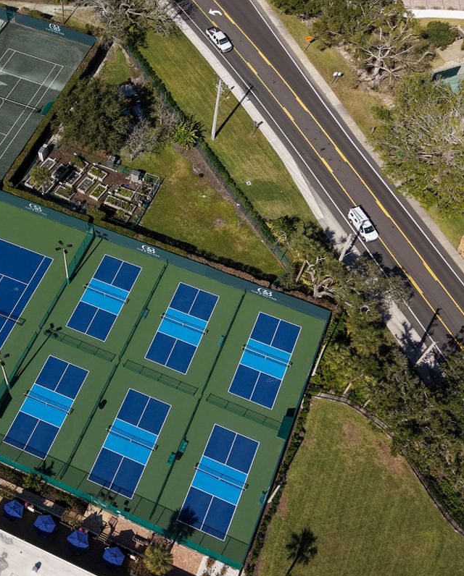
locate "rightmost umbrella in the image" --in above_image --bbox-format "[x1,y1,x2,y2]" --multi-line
[102,545,127,570]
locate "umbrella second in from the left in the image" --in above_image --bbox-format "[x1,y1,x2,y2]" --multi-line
[34,514,58,538]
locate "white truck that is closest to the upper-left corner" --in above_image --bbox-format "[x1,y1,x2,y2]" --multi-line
[205,25,234,49]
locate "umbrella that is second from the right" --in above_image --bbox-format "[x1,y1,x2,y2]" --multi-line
[67,528,91,554]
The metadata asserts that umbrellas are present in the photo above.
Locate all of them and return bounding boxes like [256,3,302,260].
[67,528,91,554]
[102,545,127,570]
[34,514,58,538]
[2,500,26,524]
